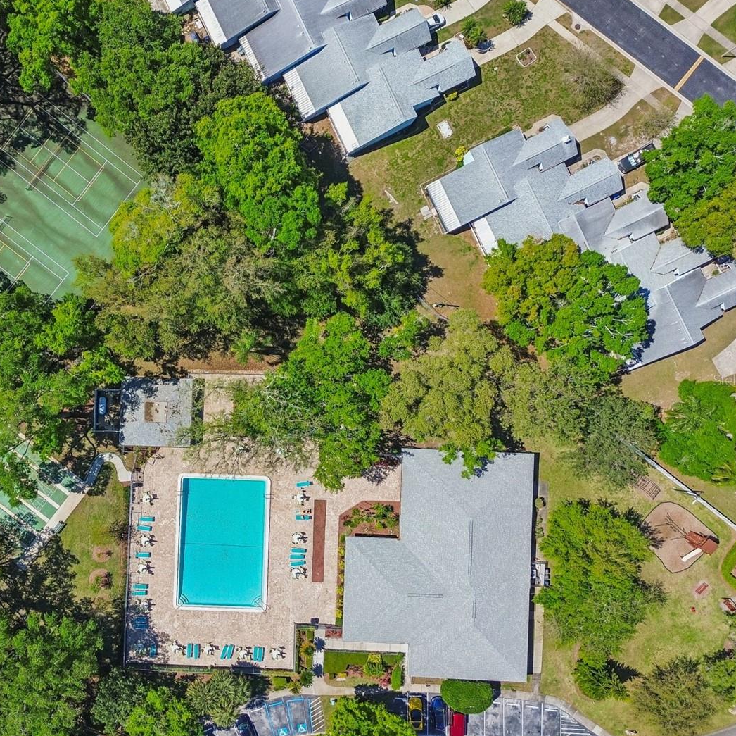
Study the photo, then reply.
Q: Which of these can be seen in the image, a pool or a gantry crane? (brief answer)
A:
pool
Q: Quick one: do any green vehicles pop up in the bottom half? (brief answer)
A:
No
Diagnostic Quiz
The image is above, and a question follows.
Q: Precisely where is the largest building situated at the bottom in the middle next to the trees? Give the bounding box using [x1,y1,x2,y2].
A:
[342,448,535,682]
